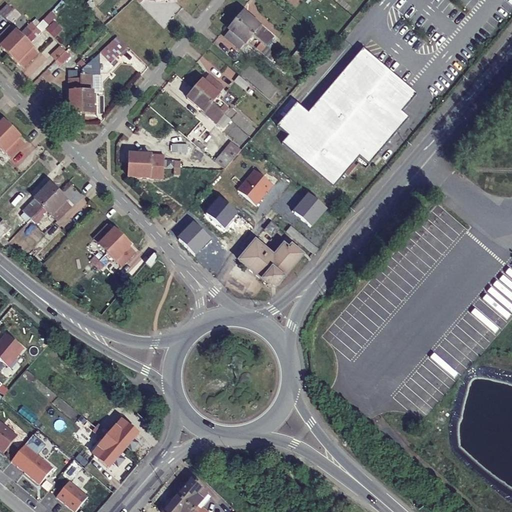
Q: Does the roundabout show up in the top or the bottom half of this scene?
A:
bottom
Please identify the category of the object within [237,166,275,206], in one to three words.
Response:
house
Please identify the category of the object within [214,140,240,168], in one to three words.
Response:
shed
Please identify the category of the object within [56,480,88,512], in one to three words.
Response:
house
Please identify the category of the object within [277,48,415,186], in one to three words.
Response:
building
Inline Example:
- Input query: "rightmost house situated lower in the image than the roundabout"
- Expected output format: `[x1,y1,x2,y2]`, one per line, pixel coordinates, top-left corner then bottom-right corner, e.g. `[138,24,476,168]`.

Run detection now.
[160,477,212,512]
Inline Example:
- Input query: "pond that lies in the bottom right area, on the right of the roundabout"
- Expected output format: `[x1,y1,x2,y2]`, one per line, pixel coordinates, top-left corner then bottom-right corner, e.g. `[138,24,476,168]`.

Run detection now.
[448,366,512,504]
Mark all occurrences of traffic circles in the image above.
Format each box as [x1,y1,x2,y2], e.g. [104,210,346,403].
[166,310,298,440]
